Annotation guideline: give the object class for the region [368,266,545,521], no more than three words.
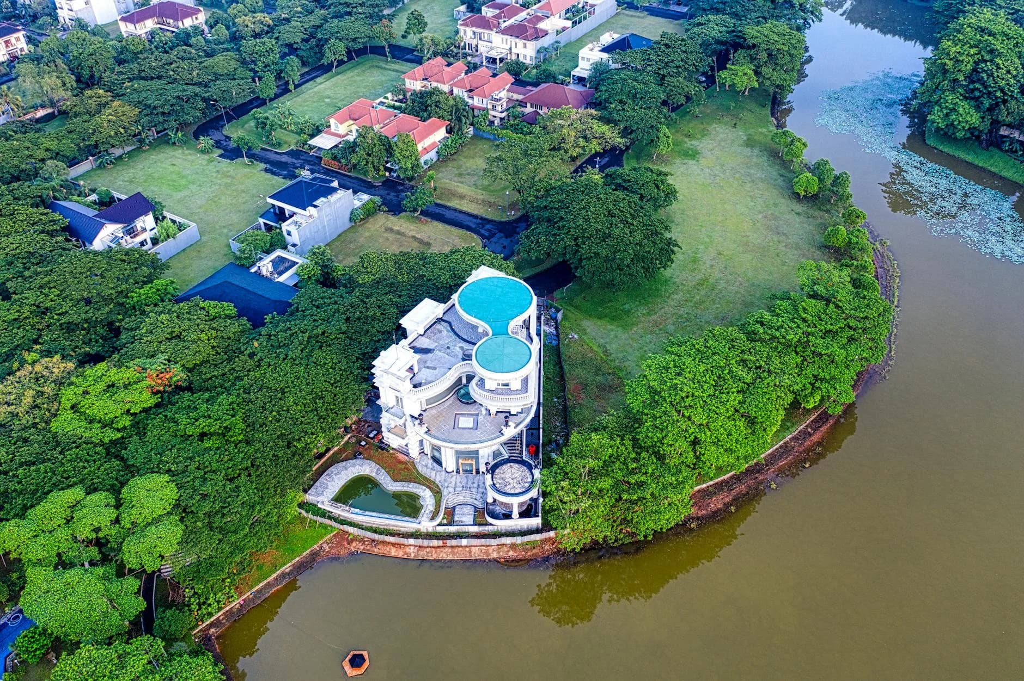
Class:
house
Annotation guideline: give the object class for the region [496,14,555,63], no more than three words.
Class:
house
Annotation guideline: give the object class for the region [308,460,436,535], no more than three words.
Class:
swimming pool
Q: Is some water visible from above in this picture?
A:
Yes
